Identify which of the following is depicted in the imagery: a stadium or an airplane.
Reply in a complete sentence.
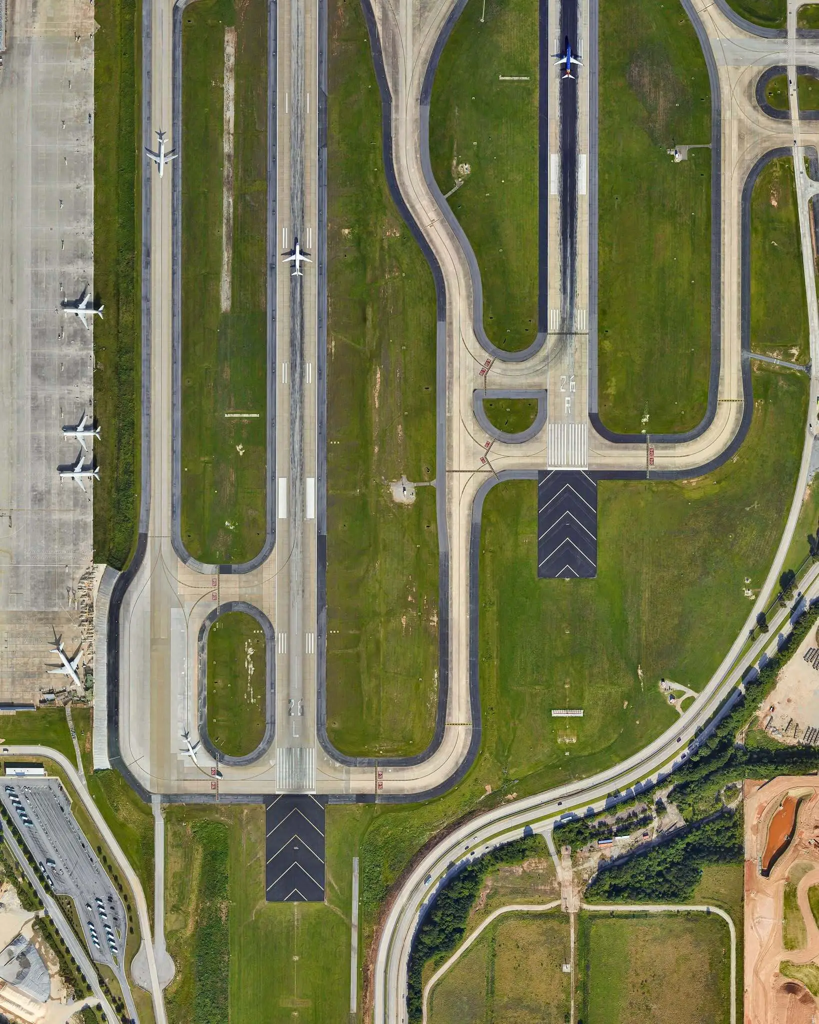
Looking from above, you can make out an airplane.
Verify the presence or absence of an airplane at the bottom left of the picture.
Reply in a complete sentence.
Yes, an airplane shows up at the bottom left of the picture.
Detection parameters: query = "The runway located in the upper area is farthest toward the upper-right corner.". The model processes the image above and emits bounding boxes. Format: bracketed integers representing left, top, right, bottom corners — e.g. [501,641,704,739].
[538,0,599,470]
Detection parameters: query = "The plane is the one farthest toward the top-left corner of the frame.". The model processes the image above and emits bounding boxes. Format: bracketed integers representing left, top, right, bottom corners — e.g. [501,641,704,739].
[146,138,178,177]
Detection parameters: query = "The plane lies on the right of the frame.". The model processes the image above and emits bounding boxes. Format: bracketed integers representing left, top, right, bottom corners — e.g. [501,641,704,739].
[553,47,584,78]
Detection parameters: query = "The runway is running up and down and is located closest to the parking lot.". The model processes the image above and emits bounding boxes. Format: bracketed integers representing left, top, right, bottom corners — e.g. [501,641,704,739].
[267,0,327,794]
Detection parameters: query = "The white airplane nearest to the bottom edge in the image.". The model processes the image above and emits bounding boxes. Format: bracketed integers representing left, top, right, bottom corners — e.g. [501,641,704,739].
[181,740,201,764]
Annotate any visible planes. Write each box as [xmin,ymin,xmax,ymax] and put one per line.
[553,47,584,78]
[48,644,85,686]
[282,243,313,275]
[63,415,100,452]
[146,138,178,177]
[181,740,201,764]
[63,293,103,329]
[60,455,98,493]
